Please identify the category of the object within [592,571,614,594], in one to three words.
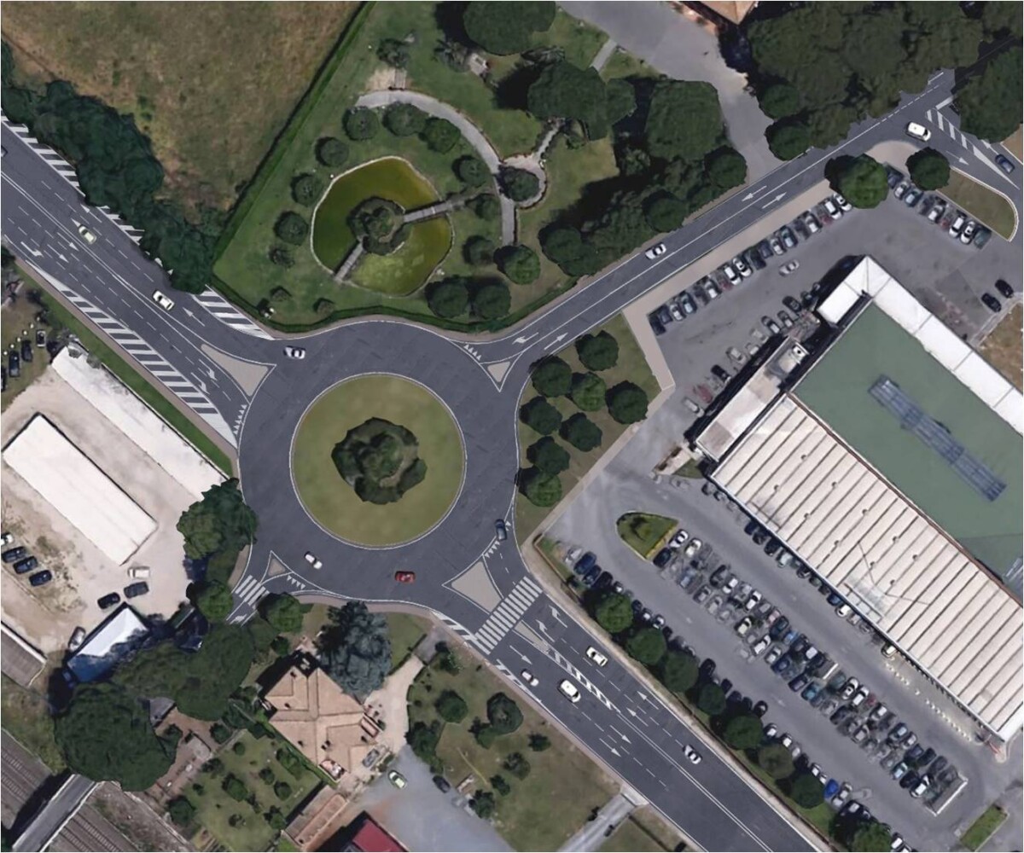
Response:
car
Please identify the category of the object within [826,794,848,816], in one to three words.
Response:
vehicle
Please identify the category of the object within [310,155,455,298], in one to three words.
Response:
pond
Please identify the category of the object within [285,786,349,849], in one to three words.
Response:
shed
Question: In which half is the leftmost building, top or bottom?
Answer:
bottom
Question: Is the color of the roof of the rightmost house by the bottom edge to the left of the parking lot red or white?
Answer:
red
